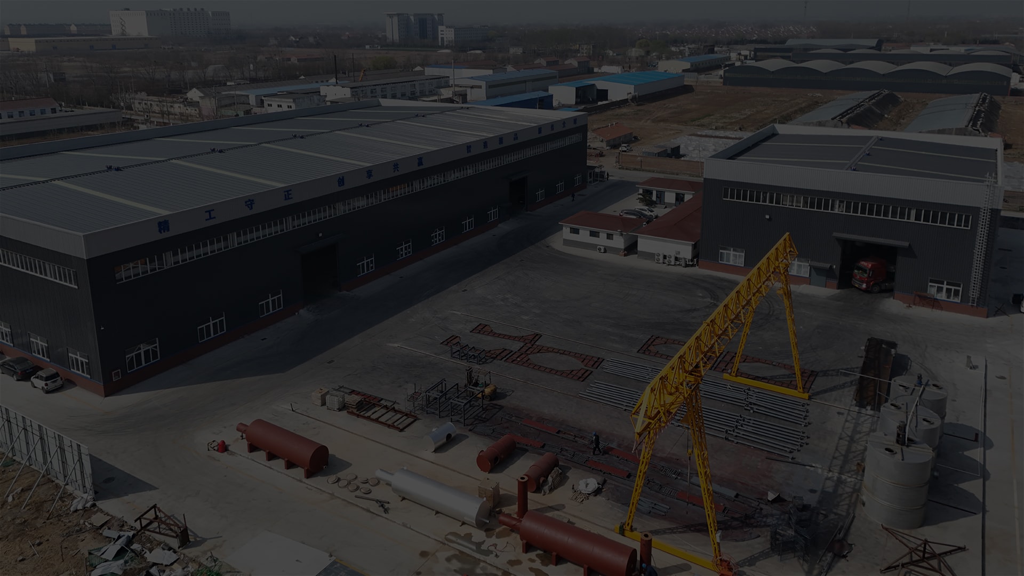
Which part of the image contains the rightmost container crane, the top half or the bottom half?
bottom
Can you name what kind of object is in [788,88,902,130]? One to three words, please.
greenhouse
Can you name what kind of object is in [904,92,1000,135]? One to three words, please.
greenhouse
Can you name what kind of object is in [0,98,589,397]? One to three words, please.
building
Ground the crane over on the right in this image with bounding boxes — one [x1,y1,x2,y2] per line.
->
[616,224,813,576]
